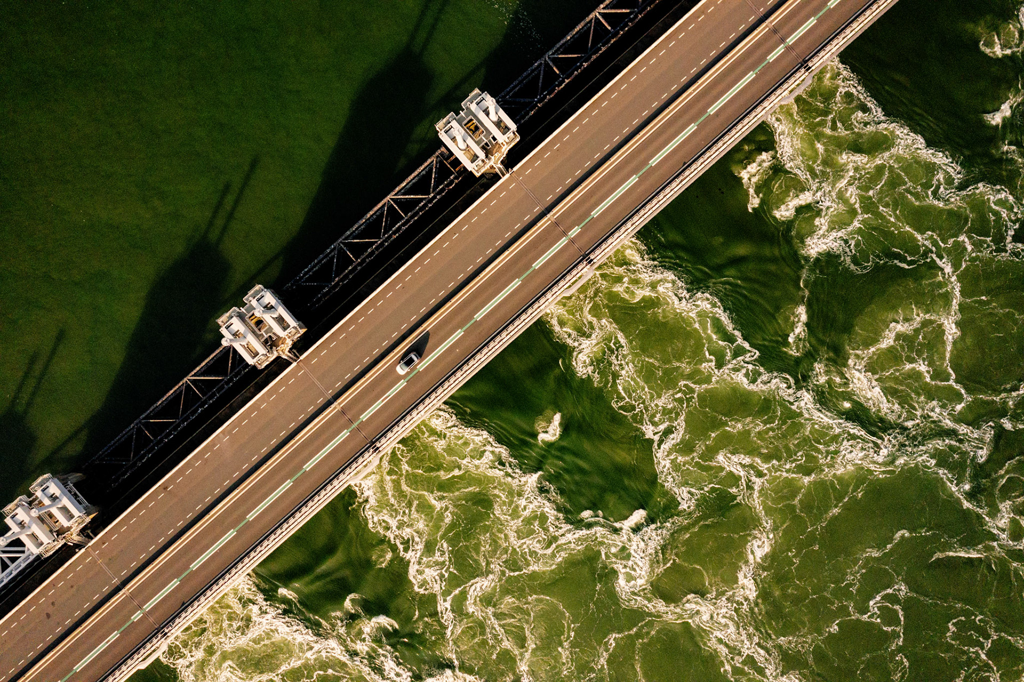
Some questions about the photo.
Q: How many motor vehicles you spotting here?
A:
one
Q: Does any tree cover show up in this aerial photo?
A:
No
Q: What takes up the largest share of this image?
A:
water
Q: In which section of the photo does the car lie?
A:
center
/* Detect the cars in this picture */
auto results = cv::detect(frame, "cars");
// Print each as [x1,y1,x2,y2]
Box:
[397,351,421,375]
